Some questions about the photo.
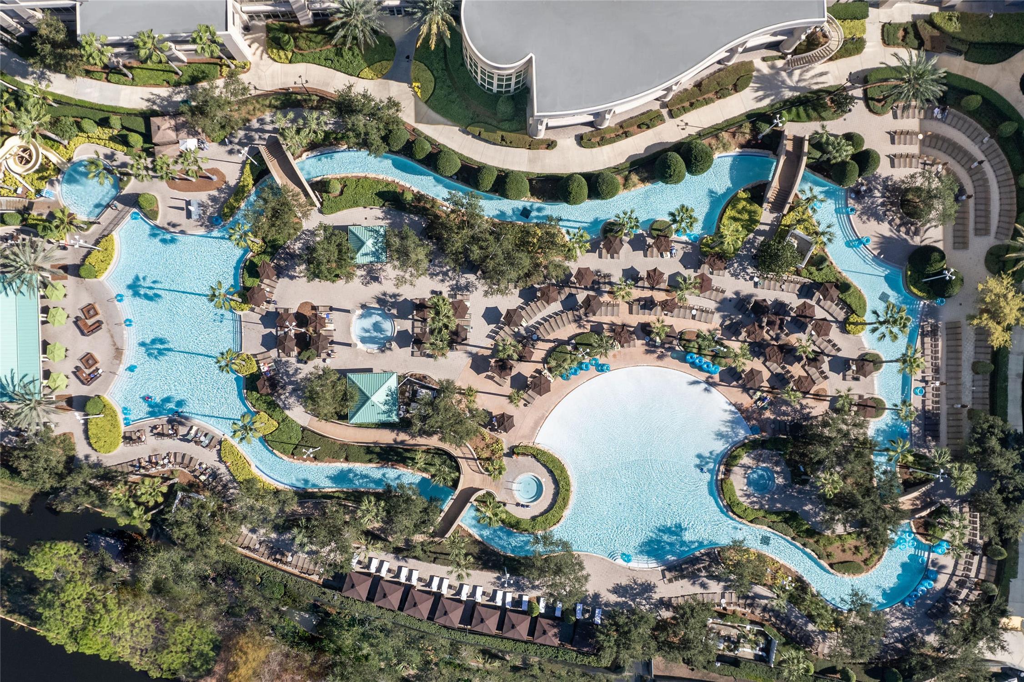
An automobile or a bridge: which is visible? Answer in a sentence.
I can see a bridge in this picture.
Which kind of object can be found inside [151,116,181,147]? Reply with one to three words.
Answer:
tent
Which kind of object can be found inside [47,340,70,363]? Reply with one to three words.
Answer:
umbrella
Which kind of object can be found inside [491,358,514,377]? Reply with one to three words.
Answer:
umbrella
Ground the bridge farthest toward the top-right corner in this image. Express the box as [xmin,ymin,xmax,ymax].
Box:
[764,129,810,212]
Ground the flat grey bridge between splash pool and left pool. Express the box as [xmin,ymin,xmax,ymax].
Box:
[93,191,138,237]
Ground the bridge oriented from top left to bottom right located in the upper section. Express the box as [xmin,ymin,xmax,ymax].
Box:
[258,133,321,216]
